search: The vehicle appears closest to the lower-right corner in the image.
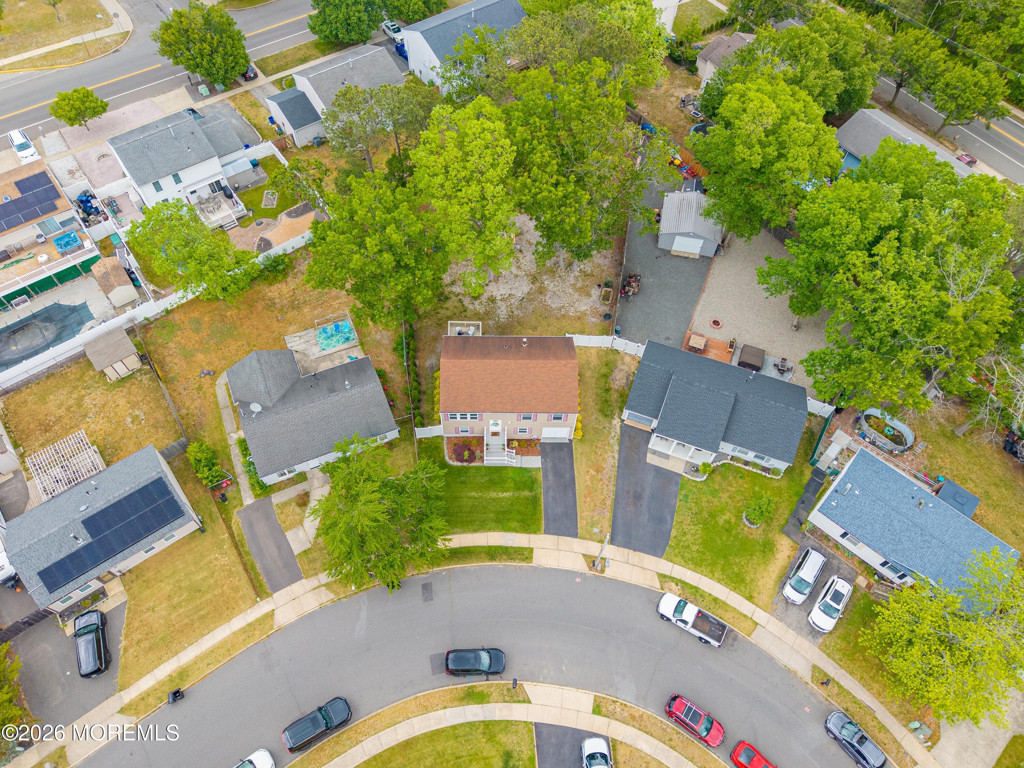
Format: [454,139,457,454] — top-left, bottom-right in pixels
[819,708,892,768]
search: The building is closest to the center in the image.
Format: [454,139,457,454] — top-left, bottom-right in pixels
[439,335,579,438]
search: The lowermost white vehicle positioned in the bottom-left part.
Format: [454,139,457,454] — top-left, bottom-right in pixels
[240,744,281,768]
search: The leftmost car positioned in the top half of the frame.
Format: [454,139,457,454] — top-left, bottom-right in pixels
[9,128,41,161]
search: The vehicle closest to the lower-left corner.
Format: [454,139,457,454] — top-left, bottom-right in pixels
[69,608,112,682]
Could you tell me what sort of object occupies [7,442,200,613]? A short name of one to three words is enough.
house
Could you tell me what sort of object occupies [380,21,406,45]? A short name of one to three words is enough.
car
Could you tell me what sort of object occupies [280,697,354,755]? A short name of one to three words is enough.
car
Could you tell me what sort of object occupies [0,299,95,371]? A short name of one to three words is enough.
swimming pool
